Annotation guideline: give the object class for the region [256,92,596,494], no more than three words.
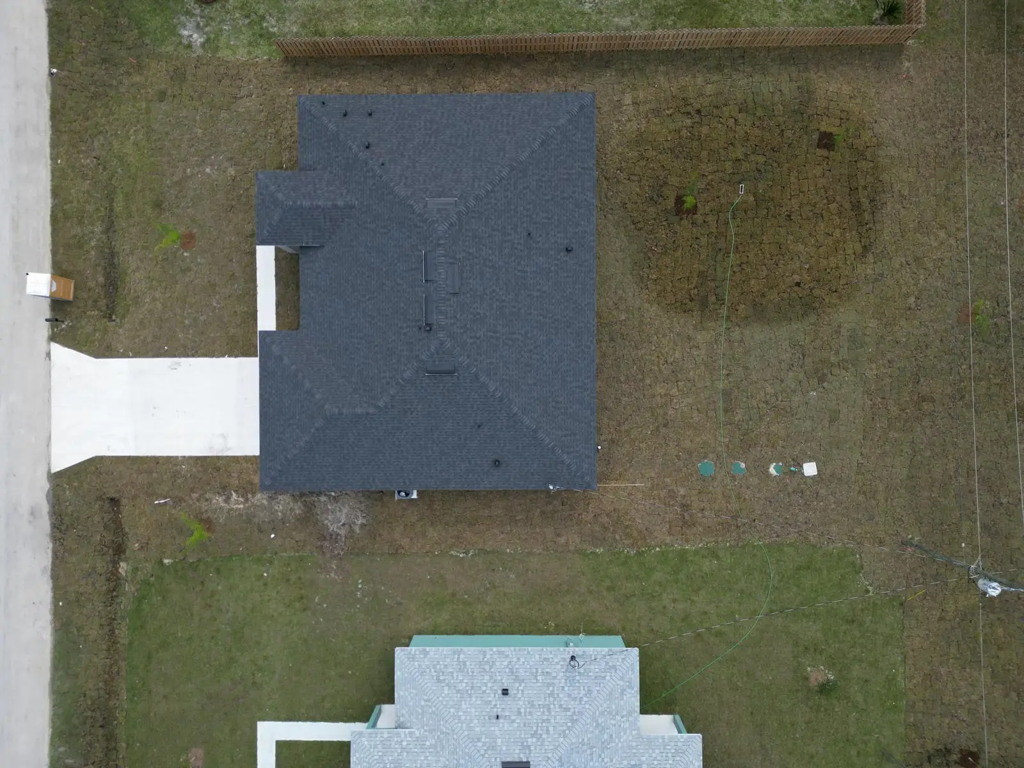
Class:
house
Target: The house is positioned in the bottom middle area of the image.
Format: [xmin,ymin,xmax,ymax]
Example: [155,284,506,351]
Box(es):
[350,622,702,768]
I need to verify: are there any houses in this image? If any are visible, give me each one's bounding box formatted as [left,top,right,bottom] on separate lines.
[256,92,596,494]
[350,622,702,768]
